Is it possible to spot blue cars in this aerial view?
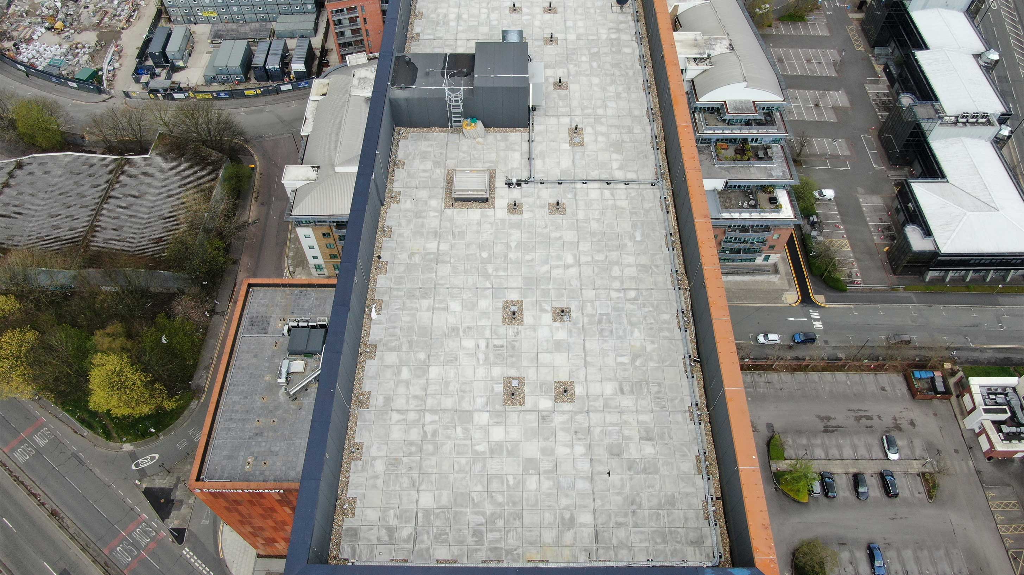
Yes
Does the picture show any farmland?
No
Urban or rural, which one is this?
urban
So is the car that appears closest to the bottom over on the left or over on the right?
right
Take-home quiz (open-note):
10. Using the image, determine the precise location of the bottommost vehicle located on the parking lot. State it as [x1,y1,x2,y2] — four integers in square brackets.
[866,543,886,575]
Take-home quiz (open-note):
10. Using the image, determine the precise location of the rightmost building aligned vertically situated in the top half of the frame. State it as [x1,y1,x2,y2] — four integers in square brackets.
[862,0,1024,290]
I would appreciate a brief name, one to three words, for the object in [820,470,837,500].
car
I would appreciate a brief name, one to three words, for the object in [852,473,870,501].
car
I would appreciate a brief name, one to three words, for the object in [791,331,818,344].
vehicle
